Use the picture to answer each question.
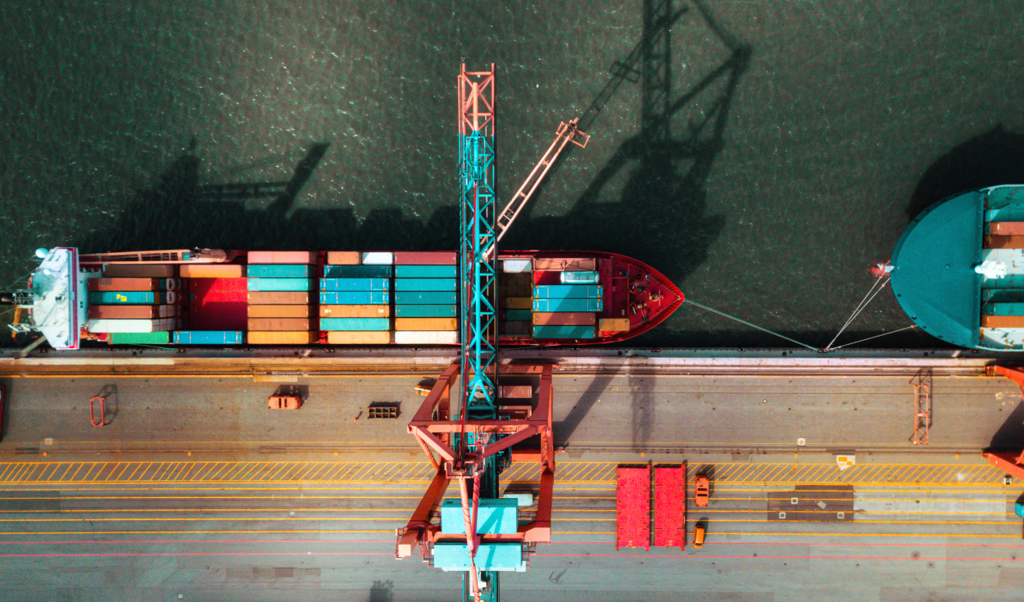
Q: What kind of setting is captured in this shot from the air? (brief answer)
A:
port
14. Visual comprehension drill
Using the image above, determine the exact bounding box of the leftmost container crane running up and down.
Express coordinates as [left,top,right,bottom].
[391,57,563,602]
